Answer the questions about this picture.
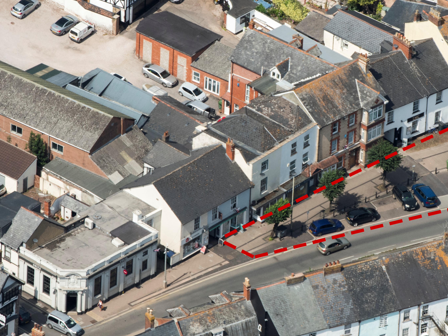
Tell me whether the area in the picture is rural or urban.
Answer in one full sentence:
This place is urban.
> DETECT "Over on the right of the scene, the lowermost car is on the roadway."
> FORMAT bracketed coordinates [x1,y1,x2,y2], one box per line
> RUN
[315,235,351,254]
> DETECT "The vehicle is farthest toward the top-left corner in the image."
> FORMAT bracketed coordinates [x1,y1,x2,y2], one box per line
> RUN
[11,0,42,17]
